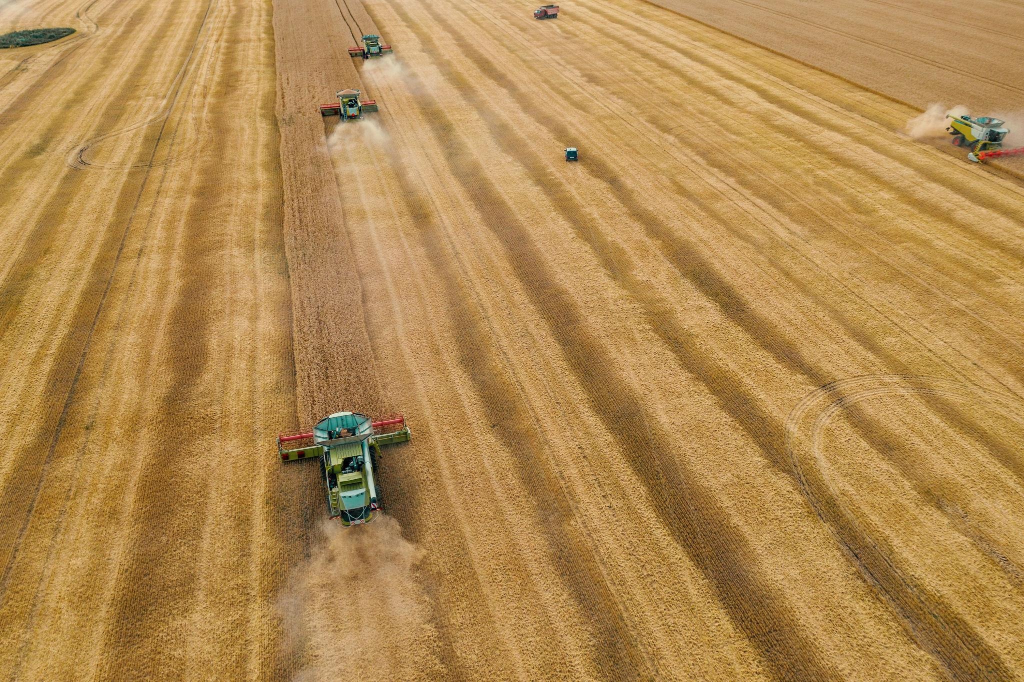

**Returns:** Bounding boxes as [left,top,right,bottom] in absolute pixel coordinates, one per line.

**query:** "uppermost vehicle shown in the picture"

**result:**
[534,3,561,19]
